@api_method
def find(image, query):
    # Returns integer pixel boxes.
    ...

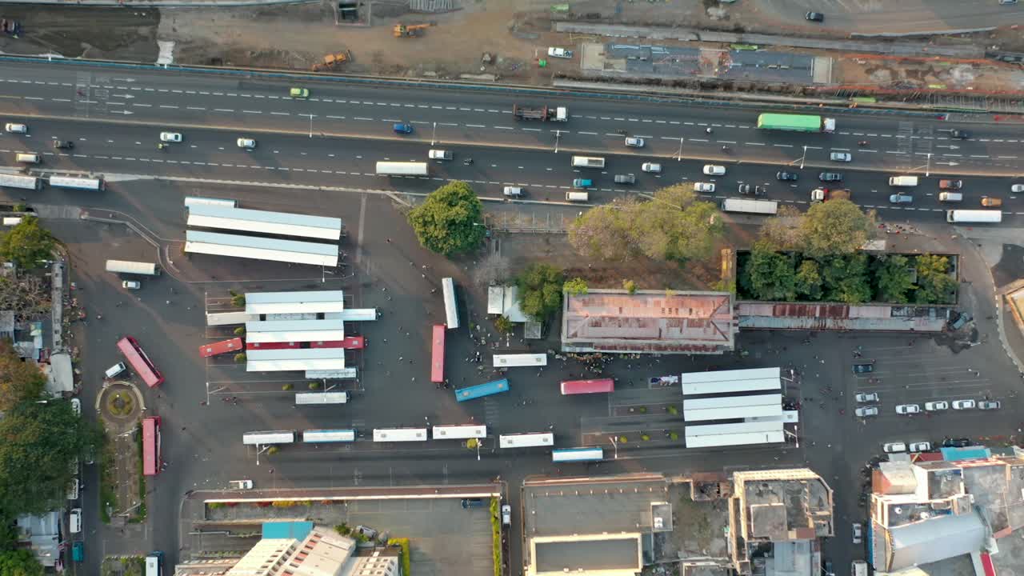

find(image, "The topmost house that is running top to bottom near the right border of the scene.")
[996,279,1024,342]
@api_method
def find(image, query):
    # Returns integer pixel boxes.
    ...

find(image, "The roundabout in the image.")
[95,376,146,429]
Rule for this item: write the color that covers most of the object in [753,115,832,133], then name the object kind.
green vehicle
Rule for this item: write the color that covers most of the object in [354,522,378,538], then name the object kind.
gray car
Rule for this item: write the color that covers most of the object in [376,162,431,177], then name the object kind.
white vehicle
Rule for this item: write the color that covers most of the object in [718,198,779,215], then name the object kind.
white vehicle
